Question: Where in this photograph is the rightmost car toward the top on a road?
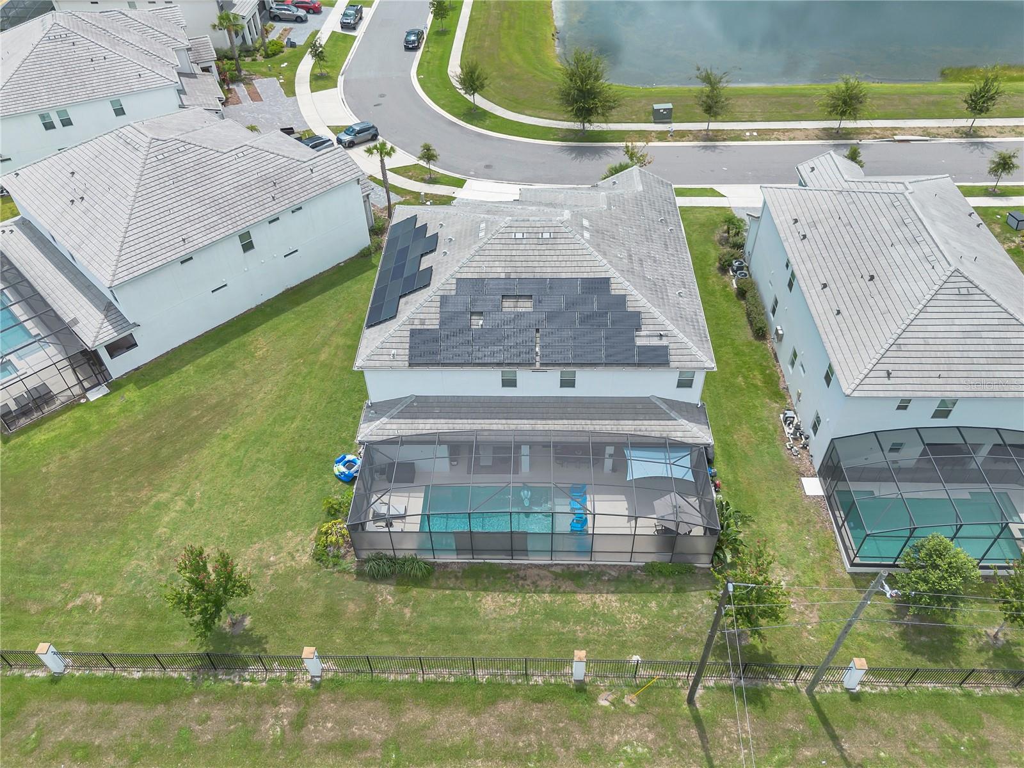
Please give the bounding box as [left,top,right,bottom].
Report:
[402,21,423,46]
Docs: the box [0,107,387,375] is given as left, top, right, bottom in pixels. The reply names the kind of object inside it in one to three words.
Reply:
house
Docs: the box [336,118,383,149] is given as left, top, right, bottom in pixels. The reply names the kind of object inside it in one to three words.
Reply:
car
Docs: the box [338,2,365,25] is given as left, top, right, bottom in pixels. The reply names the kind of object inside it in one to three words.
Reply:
truck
